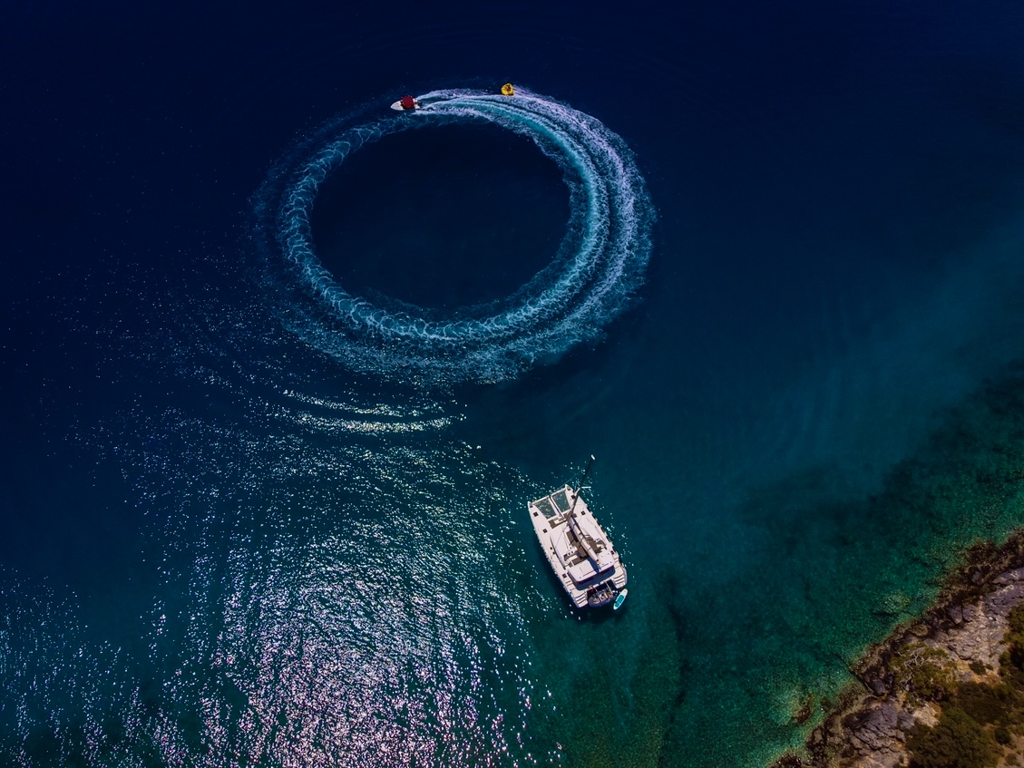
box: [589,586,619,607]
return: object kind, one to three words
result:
boat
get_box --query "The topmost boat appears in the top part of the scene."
[390,95,423,112]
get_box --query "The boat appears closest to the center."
[496,446,624,609]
